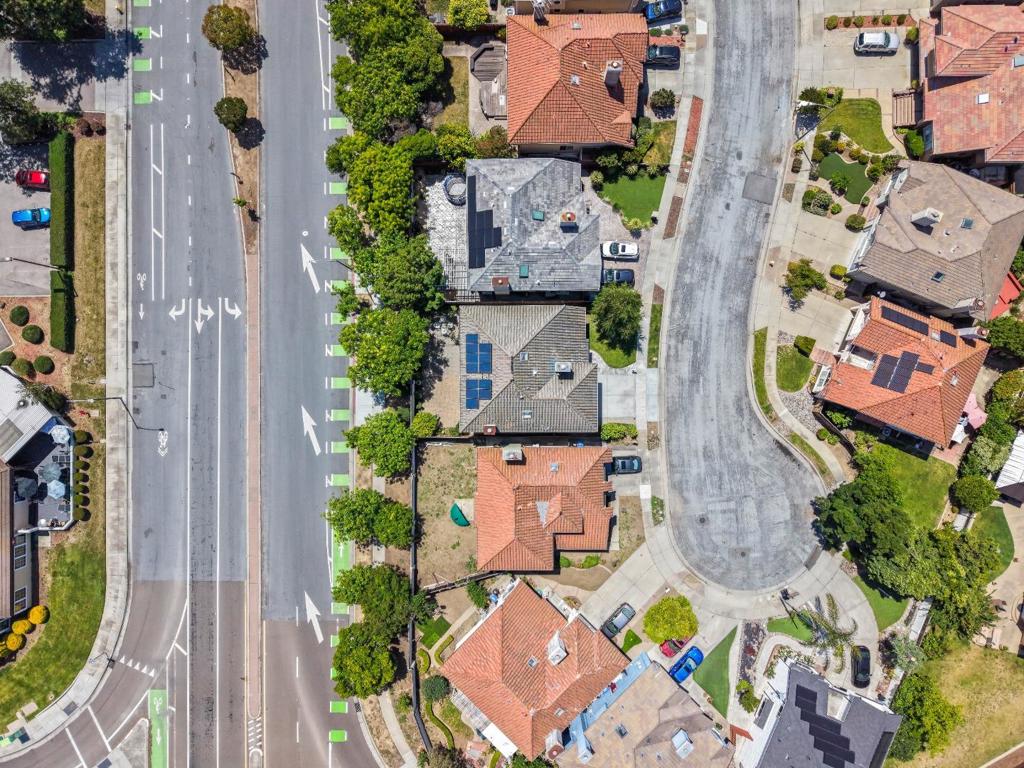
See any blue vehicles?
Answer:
Yes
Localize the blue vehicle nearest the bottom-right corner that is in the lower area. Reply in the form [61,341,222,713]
[669,645,707,681]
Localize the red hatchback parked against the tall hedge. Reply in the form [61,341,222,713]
[14,170,53,189]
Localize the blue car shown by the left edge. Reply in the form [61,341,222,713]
[8,208,53,229]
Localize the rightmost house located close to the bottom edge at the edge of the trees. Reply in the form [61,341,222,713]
[737,649,905,768]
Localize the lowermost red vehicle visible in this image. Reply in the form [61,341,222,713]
[658,633,694,661]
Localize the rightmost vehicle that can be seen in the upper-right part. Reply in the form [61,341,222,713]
[855,30,899,53]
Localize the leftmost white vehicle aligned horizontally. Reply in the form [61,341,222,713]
[601,240,640,259]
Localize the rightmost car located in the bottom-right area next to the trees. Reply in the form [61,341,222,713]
[850,645,873,687]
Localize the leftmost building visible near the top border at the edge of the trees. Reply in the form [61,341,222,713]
[505,0,648,153]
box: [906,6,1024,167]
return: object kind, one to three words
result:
house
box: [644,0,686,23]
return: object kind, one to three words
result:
car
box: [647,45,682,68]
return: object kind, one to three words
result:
car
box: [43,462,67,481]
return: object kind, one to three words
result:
umbrella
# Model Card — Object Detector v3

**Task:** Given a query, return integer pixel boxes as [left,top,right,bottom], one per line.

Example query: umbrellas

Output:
[19,476,43,497]
[53,424,72,443]
[963,394,978,408]
[49,480,70,498]
[43,462,67,481]
[960,406,985,430]
[950,424,963,440]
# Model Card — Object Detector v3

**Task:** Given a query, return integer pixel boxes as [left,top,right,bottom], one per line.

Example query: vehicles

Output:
[855,30,899,53]
[601,268,636,286]
[647,45,682,68]
[669,645,707,681]
[658,633,694,661]
[644,0,686,23]
[612,456,643,474]
[601,240,640,259]
[850,645,873,687]
[600,602,637,640]
[14,170,53,189]
[8,208,53,229]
